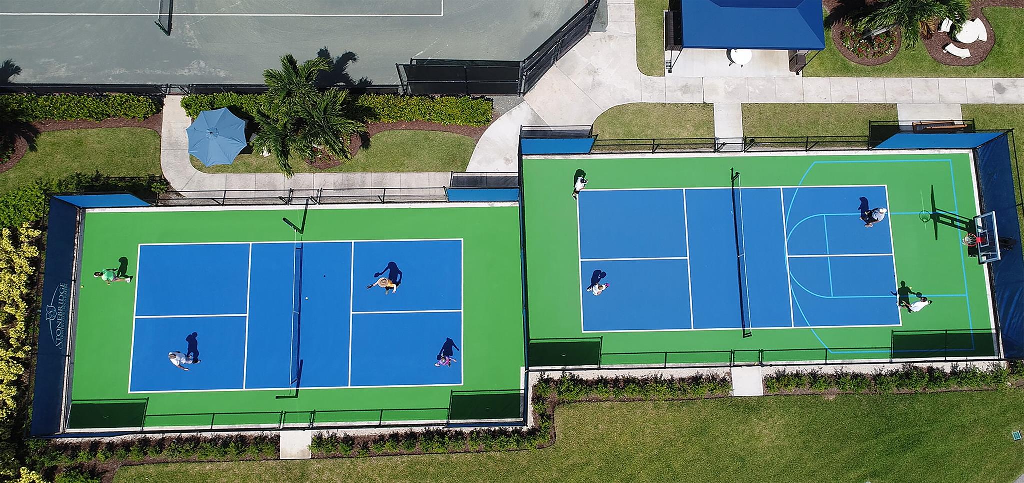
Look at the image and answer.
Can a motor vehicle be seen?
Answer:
No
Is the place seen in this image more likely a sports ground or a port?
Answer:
sports ground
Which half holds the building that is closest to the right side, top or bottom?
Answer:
top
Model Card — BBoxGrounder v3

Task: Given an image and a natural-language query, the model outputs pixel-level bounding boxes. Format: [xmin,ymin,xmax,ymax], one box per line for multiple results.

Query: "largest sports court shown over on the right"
[523,148,998,370]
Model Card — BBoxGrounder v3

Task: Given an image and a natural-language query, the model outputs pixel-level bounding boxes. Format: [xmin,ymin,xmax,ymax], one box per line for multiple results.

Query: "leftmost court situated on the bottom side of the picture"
[62,201,526,432]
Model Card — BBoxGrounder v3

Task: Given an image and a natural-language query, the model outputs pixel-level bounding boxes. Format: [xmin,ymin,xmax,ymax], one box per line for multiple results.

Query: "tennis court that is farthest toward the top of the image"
[0,0,608,125]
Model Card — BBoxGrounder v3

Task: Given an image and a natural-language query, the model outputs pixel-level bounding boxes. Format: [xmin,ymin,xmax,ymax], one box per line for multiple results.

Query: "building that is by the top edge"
[666,0,825,76]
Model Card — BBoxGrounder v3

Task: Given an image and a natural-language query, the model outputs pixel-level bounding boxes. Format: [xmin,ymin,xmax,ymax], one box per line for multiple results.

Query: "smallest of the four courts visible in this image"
[785,159,974,353]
